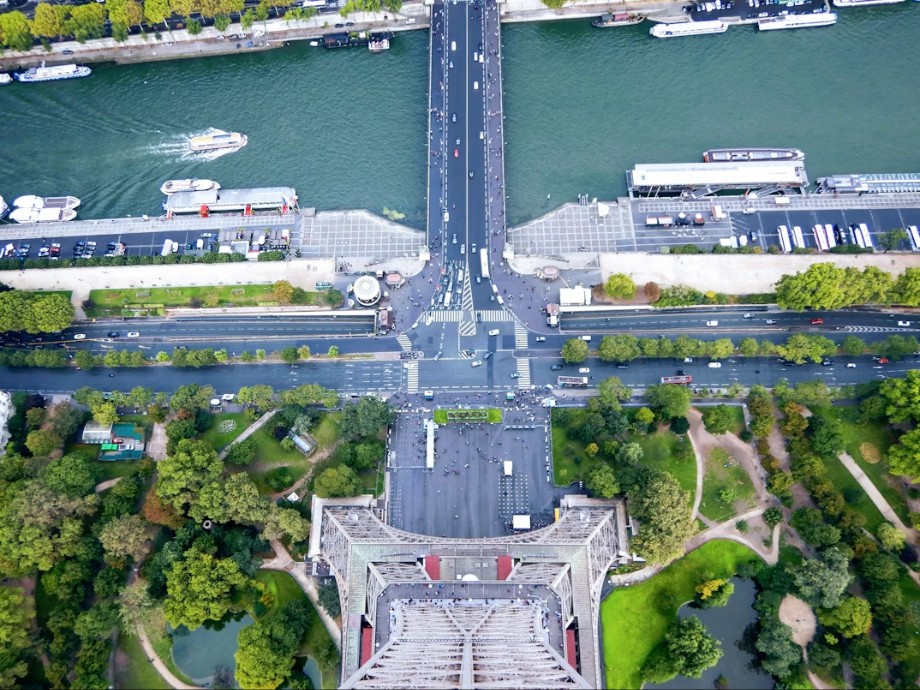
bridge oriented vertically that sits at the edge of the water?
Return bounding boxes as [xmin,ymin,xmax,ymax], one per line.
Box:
[427,3,506,264]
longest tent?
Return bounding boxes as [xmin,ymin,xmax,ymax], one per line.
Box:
[422,414,438,473]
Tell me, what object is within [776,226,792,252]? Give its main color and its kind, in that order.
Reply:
white vehicle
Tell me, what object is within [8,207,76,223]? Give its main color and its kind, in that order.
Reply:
white boat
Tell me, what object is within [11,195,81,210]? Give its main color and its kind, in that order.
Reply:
white boat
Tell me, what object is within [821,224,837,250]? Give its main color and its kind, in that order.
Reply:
white vehicle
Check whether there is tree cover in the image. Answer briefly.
Yes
